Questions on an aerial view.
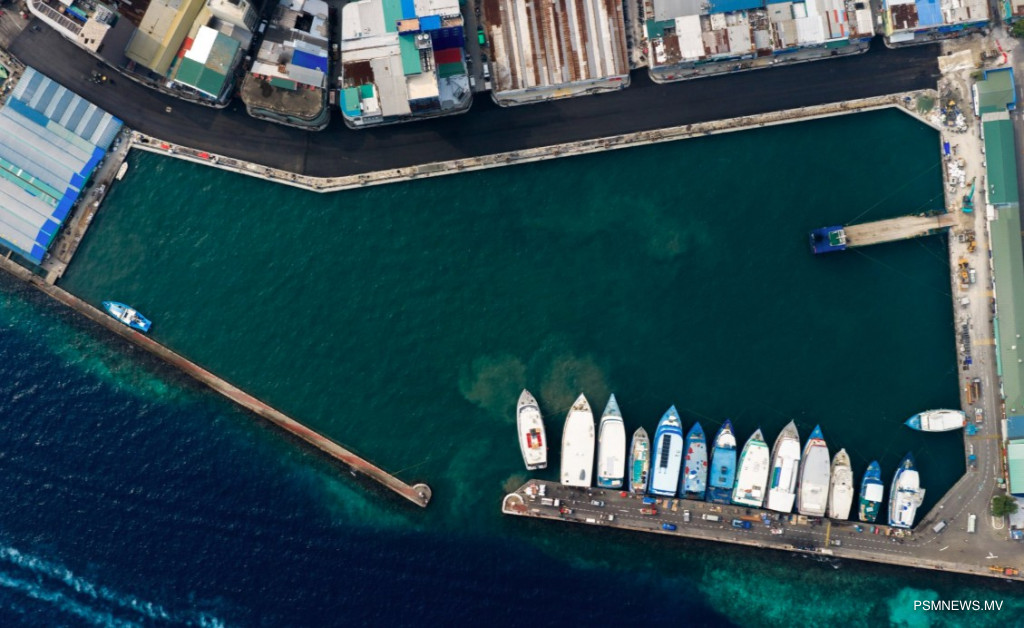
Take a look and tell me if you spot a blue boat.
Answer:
Yes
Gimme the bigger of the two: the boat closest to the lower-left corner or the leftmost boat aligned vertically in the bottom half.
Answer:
the leftmost boat aligned vertically in the bottom half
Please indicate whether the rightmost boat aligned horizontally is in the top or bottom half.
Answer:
bottom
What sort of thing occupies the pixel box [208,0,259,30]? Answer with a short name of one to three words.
building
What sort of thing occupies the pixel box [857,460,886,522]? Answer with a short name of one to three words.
boat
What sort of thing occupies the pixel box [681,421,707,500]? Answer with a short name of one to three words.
boat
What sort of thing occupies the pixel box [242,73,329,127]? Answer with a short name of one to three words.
building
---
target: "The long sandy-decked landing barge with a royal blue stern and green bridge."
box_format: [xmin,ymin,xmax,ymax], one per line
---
[808,211,957,256]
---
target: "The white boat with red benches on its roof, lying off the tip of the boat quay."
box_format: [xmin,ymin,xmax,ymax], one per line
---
[516,389,549,470]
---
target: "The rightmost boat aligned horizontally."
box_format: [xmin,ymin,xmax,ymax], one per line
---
[904,409,967,432]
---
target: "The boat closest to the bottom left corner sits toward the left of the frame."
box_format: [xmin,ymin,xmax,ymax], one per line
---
[101,301,154,331]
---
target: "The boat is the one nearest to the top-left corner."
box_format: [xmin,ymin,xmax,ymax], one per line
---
[116,163,129,182]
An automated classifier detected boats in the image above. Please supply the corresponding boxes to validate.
[561,393,596,489]
[829,448,853,519]
[766,419,801,514]
[887,451,923,528]
[706,418,738,504]
[681,421,707,500]
[101,301,154,331]
[798,424,830,515]
[116,163,129,182]
[650,405,683,497]
[629,426,649,494]
[904,409,967,432]
[857,460,886,522]
[733,428,769,506]
[597,393,625,488]
[516,389,549,470]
